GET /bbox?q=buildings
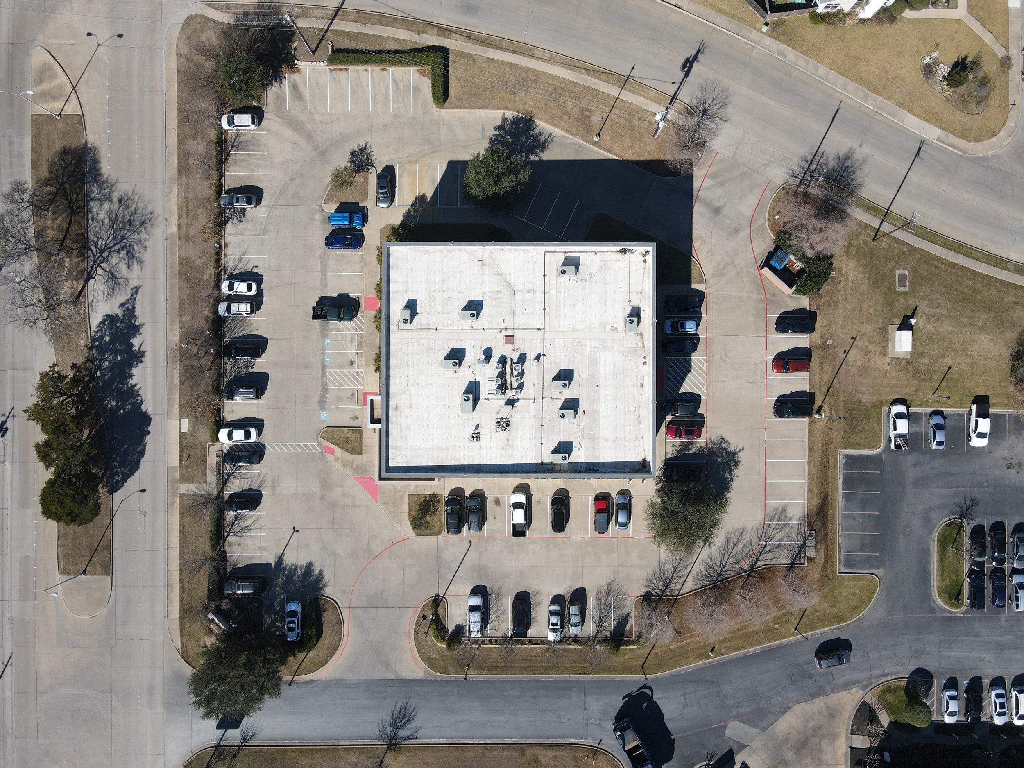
[367,242,656,484]
[816,0,911,17]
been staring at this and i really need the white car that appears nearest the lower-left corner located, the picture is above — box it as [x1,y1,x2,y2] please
[218,426,259,444]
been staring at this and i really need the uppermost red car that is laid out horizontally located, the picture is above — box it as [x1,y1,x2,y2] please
[771,357,810,375]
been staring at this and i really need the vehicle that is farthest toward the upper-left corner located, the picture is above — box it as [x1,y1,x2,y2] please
[221,112,259,131]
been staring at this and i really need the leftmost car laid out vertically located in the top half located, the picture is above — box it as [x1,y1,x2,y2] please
[375,172,392,208]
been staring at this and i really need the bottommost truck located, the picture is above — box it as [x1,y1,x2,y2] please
[610,715,651,768]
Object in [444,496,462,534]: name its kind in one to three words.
car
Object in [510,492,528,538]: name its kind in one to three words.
vehicle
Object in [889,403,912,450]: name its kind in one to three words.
truck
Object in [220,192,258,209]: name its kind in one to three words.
car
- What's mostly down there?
paved ground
